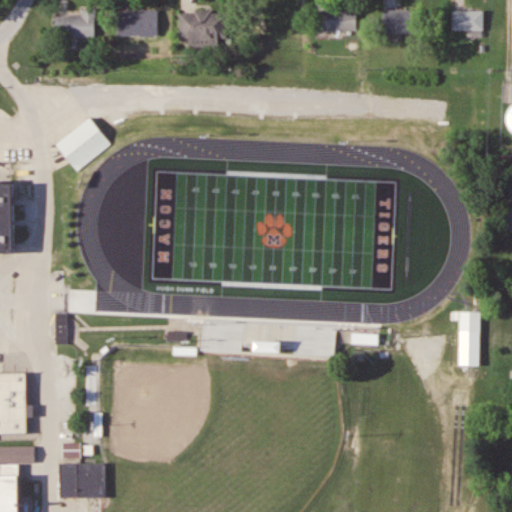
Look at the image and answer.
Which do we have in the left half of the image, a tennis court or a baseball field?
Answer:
baseball field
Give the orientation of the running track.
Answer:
horizontally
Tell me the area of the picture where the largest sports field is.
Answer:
center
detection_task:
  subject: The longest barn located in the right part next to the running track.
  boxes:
[450,310,481,372]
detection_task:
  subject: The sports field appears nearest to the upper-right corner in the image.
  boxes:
[142,160,449,302]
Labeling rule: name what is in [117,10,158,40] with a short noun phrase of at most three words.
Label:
house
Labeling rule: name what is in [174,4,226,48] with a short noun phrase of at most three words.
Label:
house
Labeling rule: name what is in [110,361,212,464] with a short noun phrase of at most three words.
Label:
baseball field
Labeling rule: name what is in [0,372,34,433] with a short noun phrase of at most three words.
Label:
building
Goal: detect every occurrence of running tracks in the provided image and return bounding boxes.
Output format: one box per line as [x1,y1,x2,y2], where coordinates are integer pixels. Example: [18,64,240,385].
[79,138,470,322]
